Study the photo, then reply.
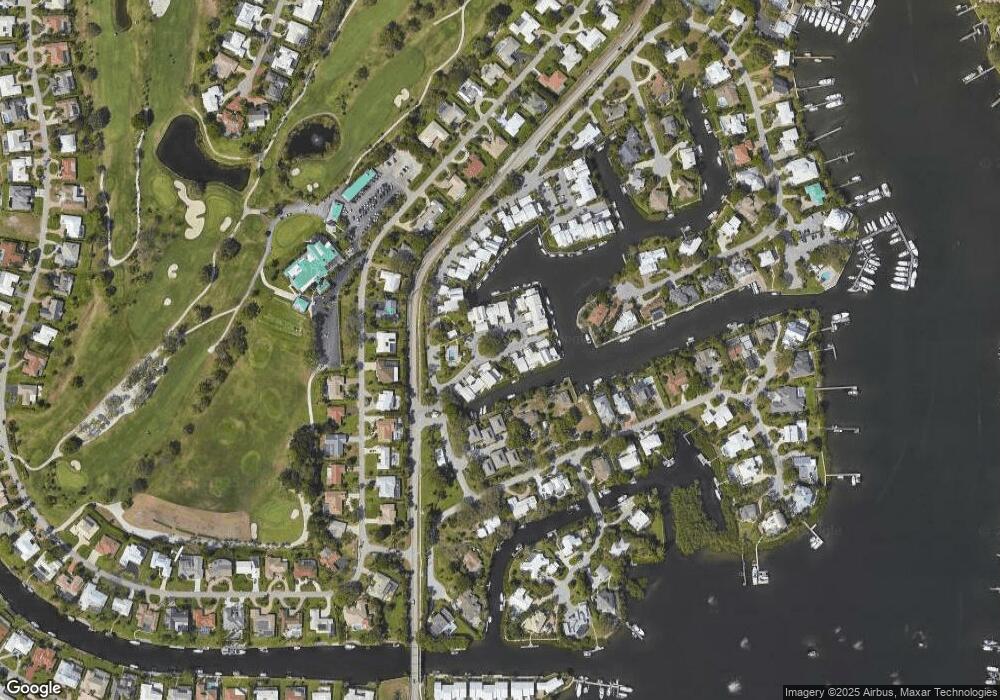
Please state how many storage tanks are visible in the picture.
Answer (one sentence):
The photo contains no storage tanks.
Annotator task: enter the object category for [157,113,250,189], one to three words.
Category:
pond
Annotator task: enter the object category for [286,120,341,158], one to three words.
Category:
pond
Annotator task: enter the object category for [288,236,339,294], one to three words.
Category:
building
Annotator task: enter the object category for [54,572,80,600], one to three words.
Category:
house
